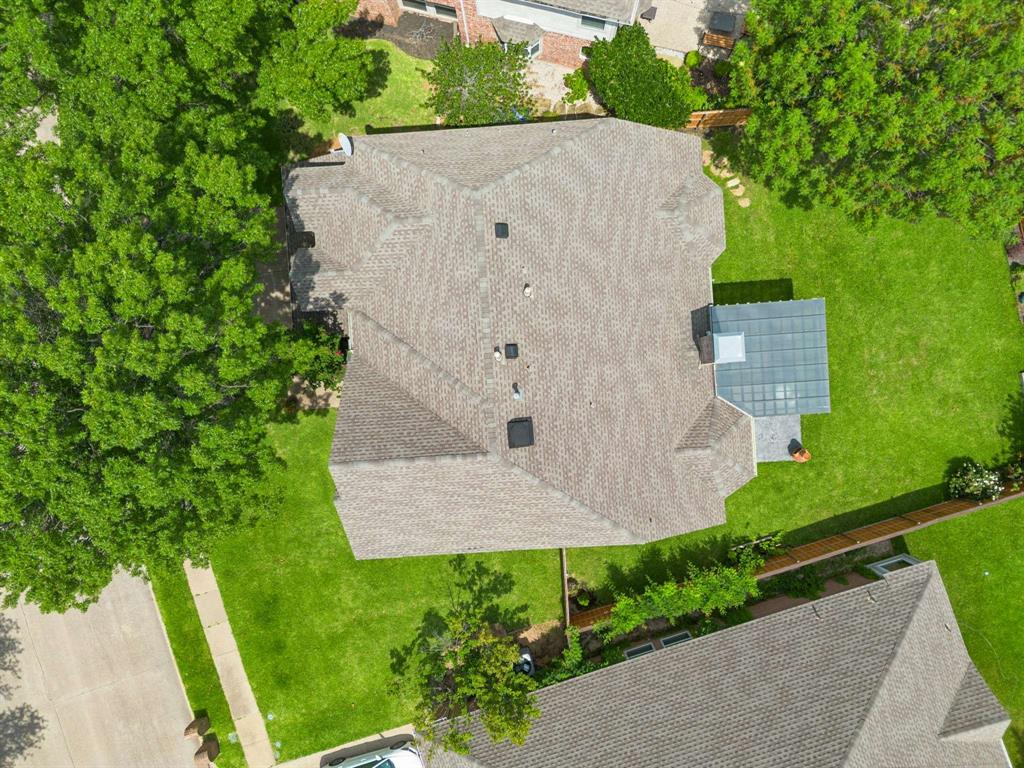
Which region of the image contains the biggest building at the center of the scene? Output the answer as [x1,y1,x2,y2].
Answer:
[282,116,758,558]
